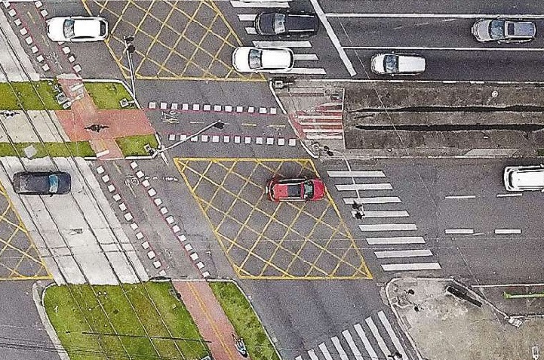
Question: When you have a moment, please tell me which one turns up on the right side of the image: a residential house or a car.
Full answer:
What appears on the right side of the image is a car.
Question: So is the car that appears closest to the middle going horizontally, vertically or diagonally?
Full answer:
The car that appears closest to the middle runs horizontally in the image.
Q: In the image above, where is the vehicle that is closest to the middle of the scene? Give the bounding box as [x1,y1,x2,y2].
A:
[266,176,325,204]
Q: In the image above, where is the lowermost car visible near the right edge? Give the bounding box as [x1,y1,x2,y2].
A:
[502,164,544,191]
